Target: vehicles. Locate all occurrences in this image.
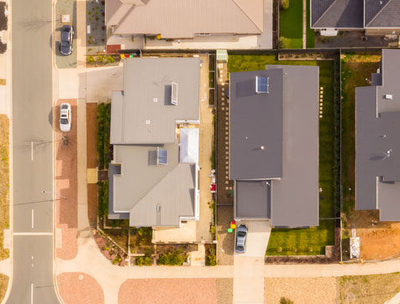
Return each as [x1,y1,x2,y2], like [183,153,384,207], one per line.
[58,103,72,132]
[233,225,247,254]
[60,24,74,55]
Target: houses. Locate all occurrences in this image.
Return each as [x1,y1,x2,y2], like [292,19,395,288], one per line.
[311,0,400,33]
[106,0,263,42]
[229,66,319,229]
[356,49,400,224]
[109,58,202,228]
